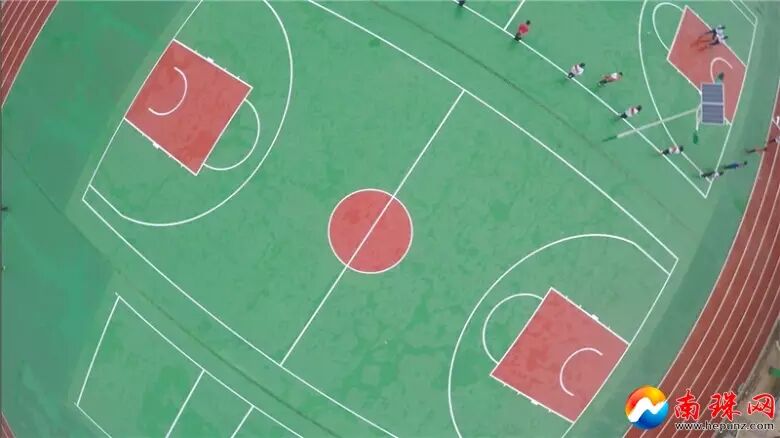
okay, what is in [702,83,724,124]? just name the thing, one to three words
solar panel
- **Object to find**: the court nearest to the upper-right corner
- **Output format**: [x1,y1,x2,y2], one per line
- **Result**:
[378,0,768,241]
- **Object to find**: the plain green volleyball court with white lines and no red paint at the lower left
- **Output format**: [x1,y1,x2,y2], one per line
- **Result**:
[62,265,346,438]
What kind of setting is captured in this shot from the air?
sports ground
